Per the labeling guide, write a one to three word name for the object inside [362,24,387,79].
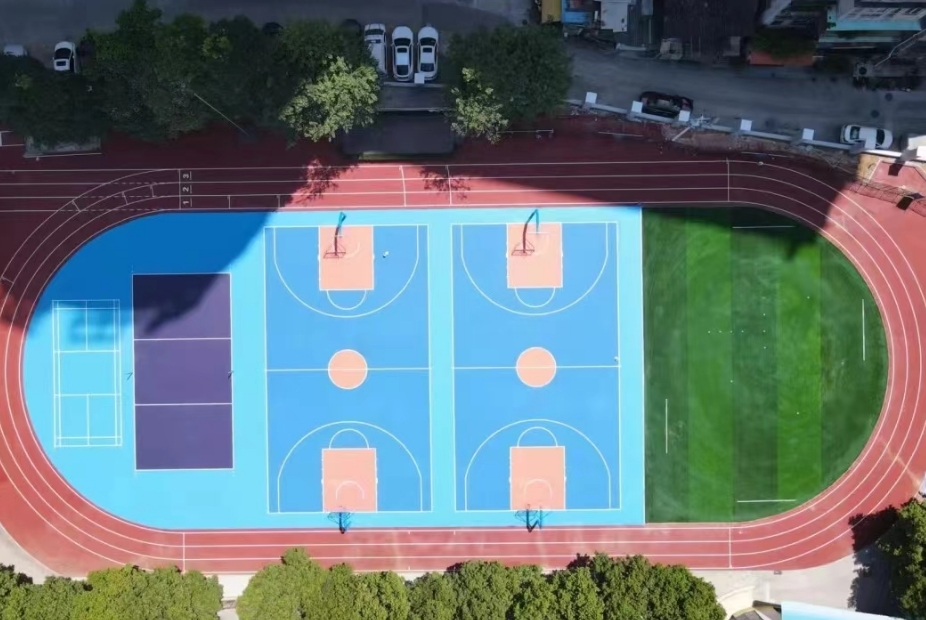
car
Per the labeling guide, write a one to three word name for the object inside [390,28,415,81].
car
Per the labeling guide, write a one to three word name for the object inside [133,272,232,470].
sports court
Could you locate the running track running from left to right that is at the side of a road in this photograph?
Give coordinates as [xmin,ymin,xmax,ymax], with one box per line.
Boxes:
[0,118,926,578]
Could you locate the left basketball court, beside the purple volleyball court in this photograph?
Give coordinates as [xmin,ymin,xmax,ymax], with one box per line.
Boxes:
[265,225,431,514]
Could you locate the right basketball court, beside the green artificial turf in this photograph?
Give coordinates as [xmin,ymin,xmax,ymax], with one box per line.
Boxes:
[453,222,619,512]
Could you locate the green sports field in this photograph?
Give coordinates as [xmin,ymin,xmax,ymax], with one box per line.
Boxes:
[641,205,890,525]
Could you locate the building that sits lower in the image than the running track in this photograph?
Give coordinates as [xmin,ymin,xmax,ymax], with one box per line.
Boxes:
[719,582,780,620]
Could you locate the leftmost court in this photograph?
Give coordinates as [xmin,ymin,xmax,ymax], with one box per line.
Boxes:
[53,299,121,446]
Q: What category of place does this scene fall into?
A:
sports ground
